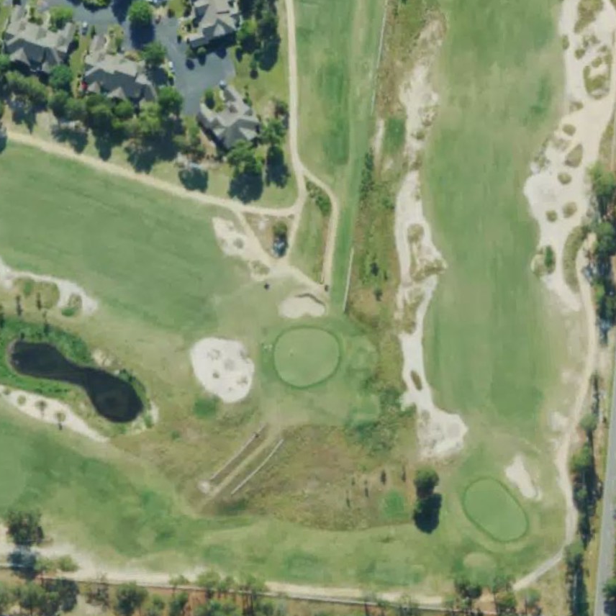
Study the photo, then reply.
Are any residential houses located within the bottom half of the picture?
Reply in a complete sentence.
No, no residential house can be made out within the bottom half of the picture.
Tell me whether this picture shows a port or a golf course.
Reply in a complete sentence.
The picture captures a golf course.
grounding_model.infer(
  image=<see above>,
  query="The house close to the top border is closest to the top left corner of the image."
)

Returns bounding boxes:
[3,7,79,75]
